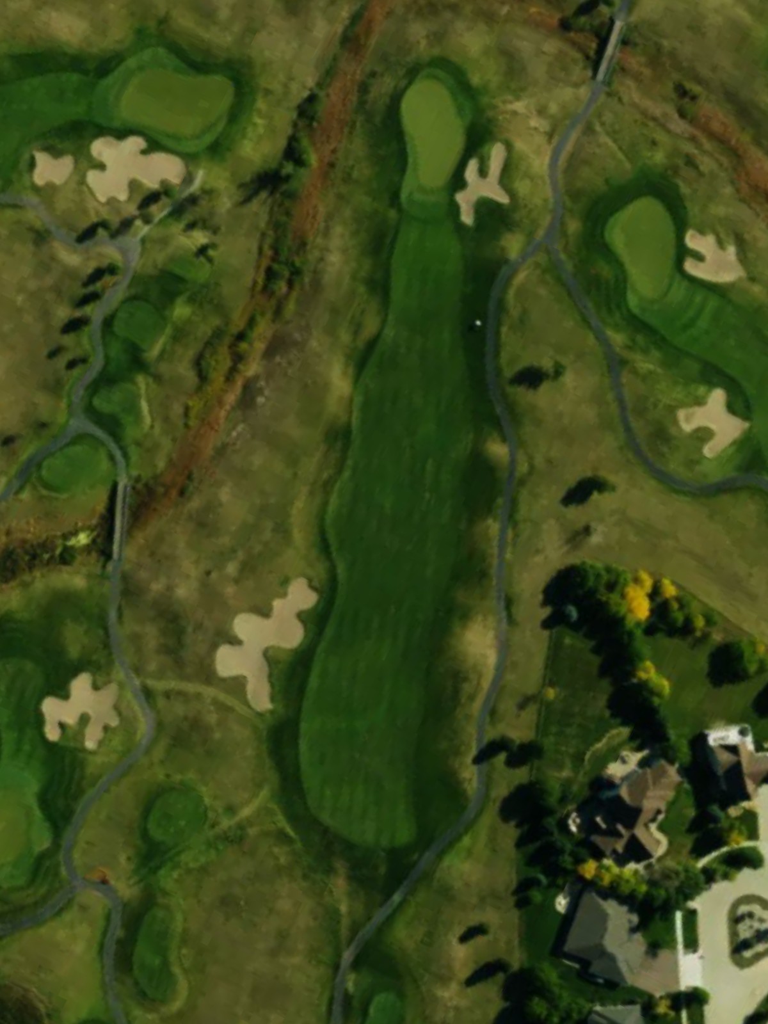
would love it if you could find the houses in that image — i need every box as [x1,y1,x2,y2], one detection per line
[590,754,685,871]
[589,1005,654,1024]
[704,725,768,805]
[565,893,685,996]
